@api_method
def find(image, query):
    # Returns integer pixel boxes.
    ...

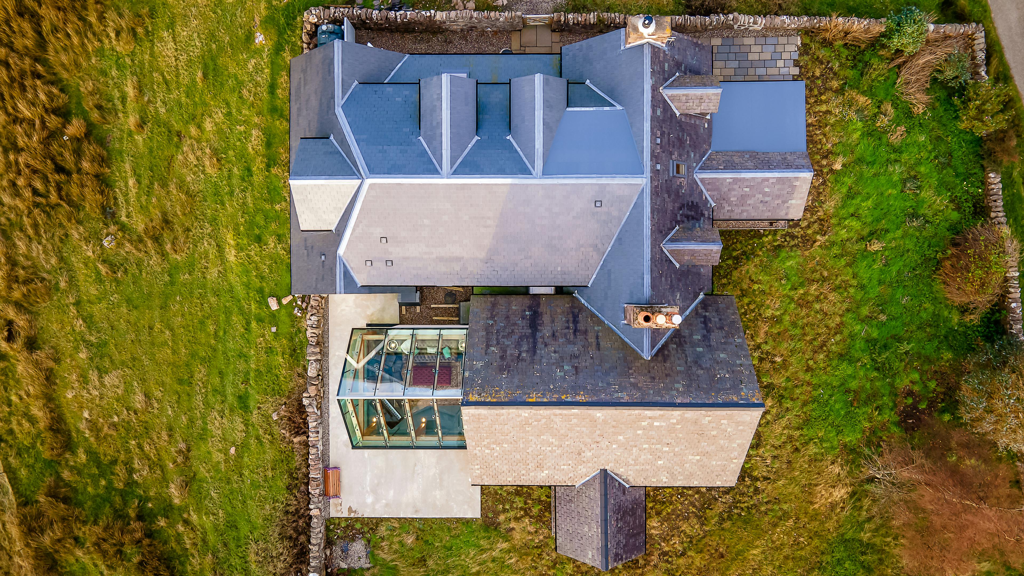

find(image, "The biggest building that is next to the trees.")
[288,16,815,572]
